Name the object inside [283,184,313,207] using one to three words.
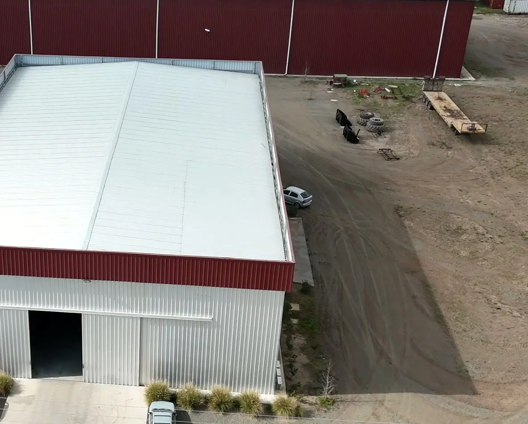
car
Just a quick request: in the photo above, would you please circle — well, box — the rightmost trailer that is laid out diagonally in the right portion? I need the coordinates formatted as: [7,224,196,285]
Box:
[423,72,492,135]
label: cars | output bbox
[283,184,313,207]
[147,403,179,424]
